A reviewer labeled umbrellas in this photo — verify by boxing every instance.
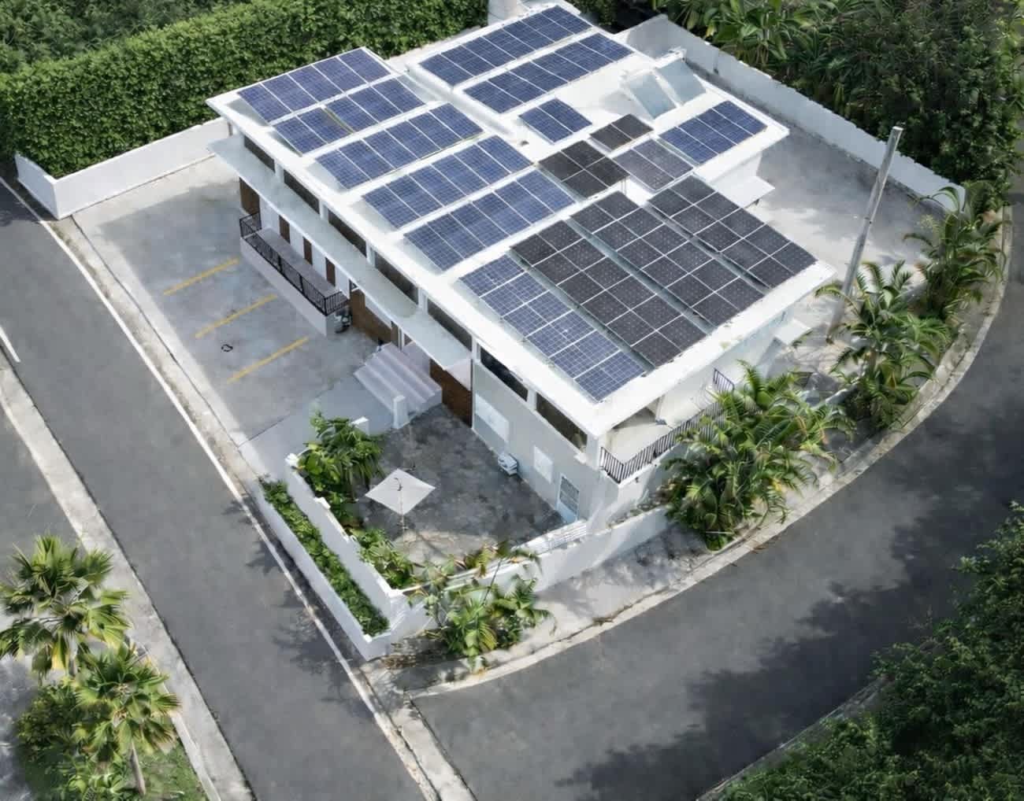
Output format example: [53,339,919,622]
[367,469,435,545]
